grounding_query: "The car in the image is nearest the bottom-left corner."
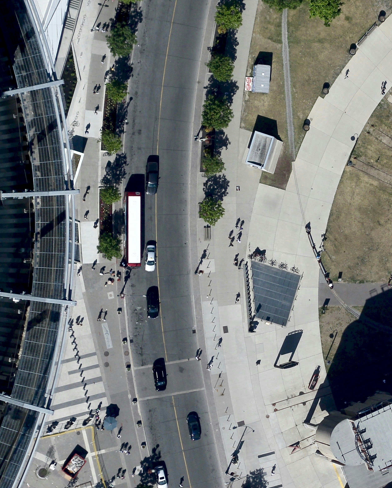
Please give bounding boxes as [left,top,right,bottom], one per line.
[154,465,168,488]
